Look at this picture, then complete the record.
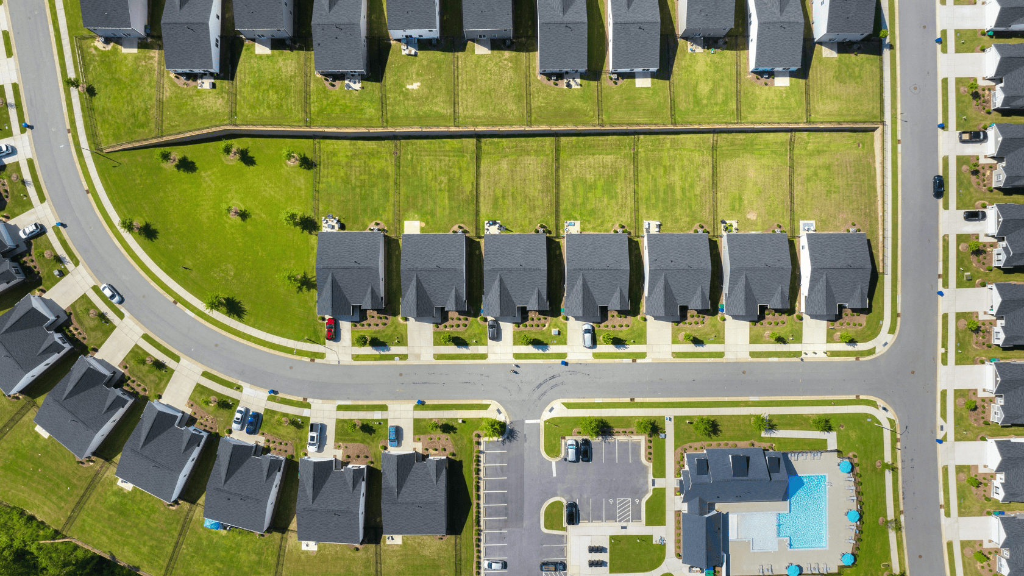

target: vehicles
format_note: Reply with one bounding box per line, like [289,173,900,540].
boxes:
[387,425,398,447]
[232,406,247,430]
[582,323,594,347]
[566,439,578,462]
[308,423,320,452]
[541,561,565,573]
[101,282,123,305]
[0,143,14,156]
[326,317,336,341]
[488,319,497,340]
[932,175,945,199]
[567,501,577,525]
[18,222,43,239]
[245,410,259,434]
[963,210,986,222]
[958,130,987,142]
[580,438,592,462]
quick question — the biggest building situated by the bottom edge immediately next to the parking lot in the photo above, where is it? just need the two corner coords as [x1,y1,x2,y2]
[673,445,789,571]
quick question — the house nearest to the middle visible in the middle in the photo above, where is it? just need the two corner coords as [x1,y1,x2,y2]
[483,233,548,317]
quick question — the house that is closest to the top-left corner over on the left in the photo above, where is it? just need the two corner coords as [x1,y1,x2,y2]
[78,0,146,38]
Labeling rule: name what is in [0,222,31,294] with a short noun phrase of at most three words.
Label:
house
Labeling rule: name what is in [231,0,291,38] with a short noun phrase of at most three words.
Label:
house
